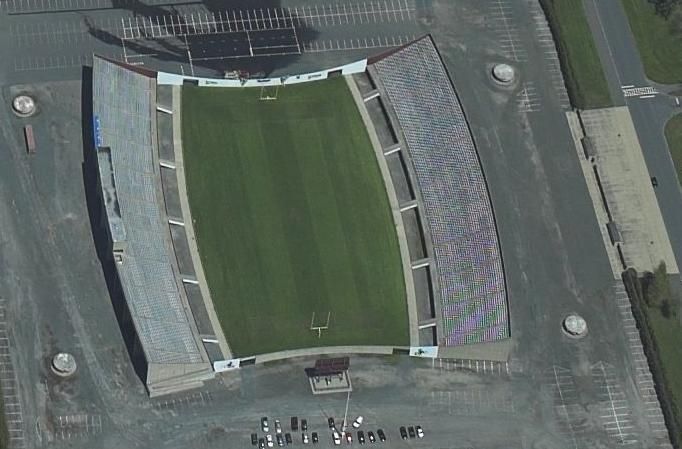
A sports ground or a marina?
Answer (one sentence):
The picture captures a sports ground.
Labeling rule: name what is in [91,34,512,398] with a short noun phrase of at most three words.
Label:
stadium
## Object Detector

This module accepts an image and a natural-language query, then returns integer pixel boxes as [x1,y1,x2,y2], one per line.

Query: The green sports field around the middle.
[172,74,420,371]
